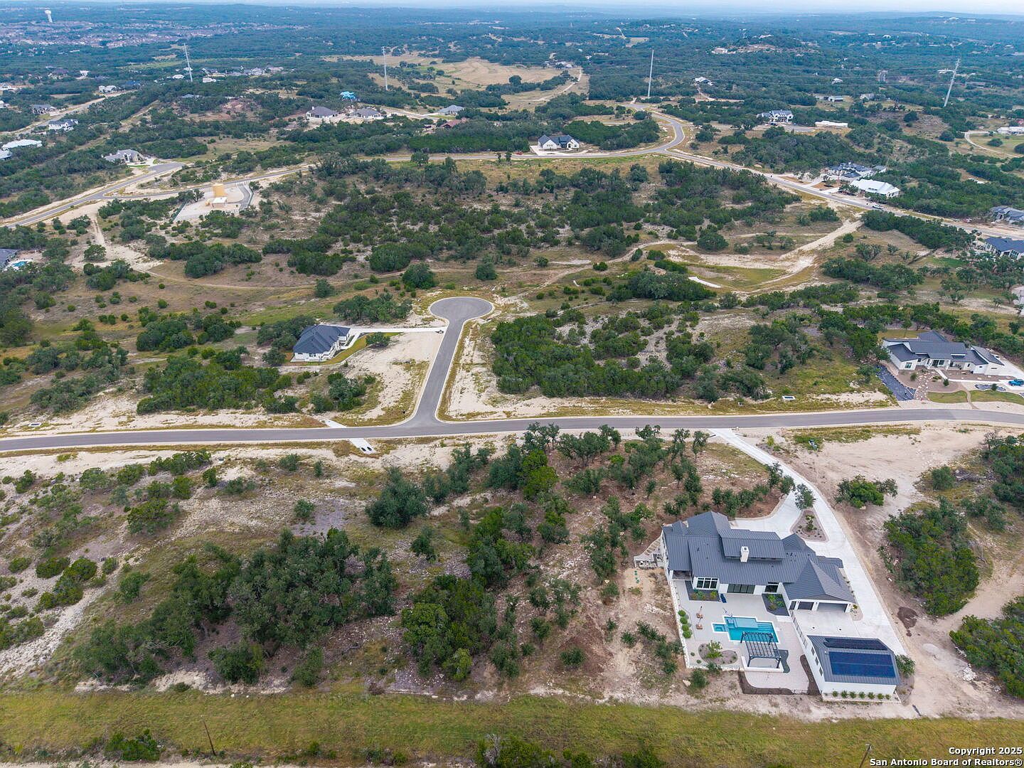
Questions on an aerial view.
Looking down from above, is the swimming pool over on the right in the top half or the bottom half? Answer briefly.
bottom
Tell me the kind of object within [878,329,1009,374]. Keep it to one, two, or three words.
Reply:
house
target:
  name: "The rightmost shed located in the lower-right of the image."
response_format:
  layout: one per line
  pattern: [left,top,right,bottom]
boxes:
[804,635,900,696]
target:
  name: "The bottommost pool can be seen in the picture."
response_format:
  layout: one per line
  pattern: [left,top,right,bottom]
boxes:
[709,615,781,645]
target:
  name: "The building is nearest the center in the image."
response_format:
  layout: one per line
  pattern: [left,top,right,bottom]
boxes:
[291,320,356,360]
